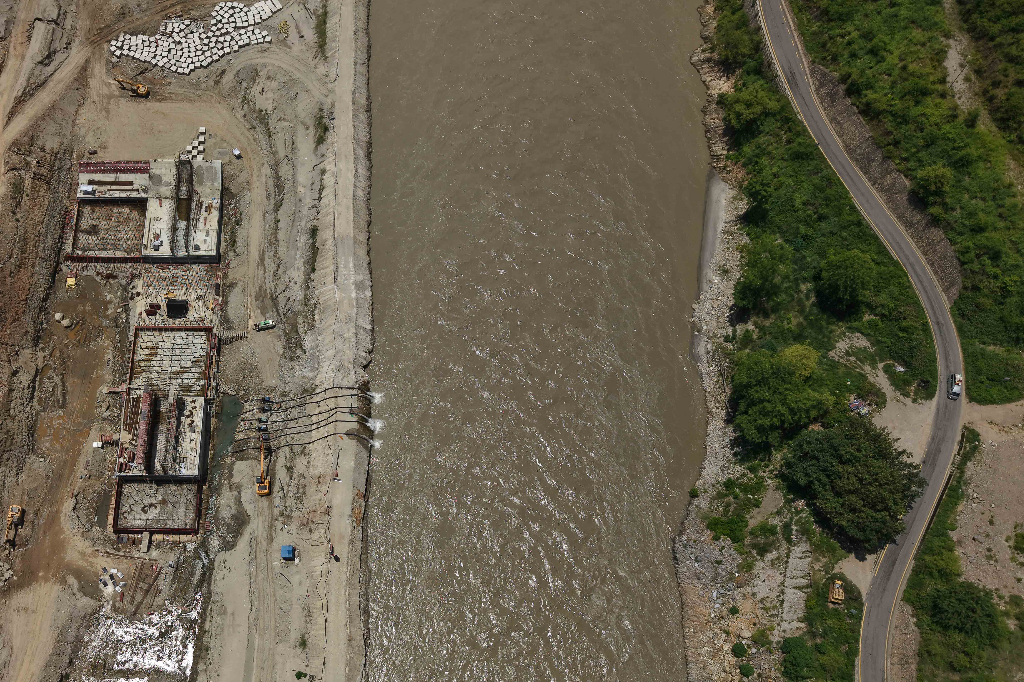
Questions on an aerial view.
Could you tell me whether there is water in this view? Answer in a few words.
Yes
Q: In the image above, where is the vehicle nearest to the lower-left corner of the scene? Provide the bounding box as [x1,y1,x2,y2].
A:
[0,501,26,546]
